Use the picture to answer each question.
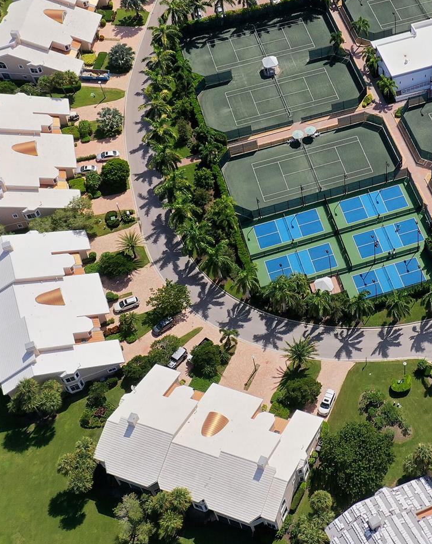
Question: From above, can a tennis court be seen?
Yes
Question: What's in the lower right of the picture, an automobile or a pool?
automobile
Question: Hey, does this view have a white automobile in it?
Yes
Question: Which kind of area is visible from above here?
residential area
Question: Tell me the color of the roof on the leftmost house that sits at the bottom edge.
white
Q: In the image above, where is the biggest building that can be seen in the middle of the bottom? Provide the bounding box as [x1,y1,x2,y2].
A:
[94,364,323,540]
